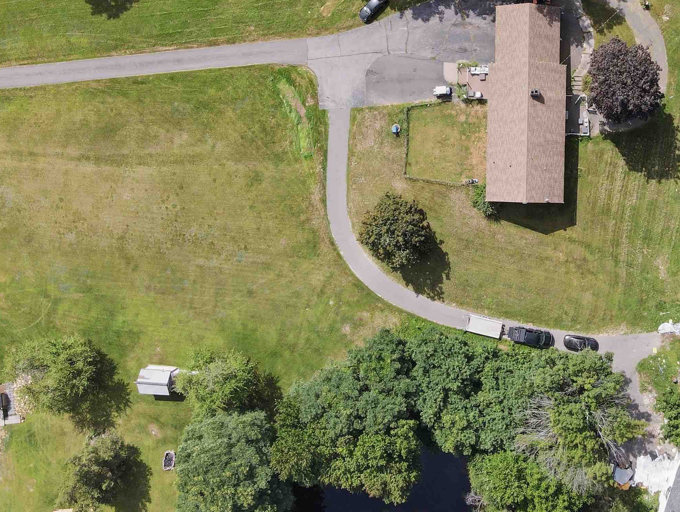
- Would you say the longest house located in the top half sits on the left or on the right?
right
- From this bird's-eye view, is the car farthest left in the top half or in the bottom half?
top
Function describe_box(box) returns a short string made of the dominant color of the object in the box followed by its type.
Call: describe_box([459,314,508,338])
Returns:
white trailer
